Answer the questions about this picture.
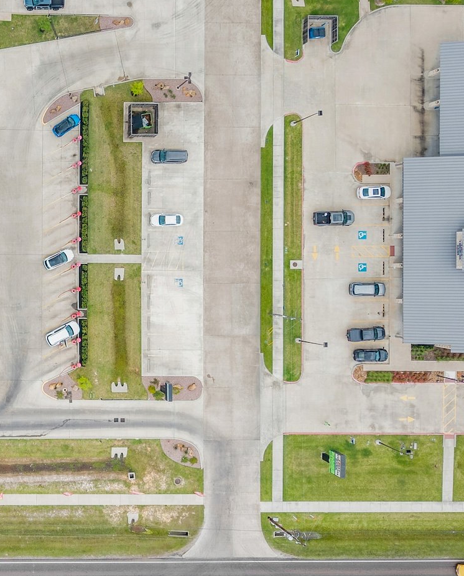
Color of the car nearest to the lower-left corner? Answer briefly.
white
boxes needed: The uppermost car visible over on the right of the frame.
[356,183,391,199]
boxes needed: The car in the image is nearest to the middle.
[150,212,183,227]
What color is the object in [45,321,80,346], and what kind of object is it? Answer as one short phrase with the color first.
white car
